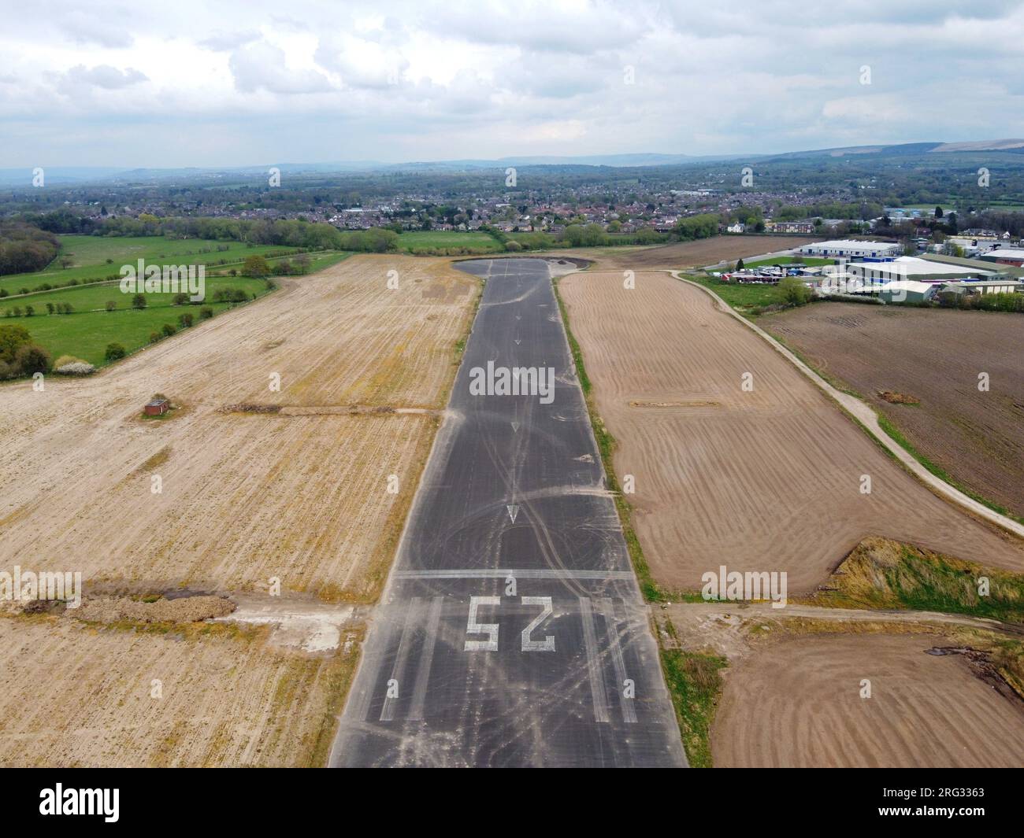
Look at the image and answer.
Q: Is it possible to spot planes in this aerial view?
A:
No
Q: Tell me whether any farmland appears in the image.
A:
Yes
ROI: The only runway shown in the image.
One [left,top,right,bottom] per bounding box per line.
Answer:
[308,258,709,838]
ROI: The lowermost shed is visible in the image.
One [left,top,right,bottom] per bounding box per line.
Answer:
[142,402,172,416]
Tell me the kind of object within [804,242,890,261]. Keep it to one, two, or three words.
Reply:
building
